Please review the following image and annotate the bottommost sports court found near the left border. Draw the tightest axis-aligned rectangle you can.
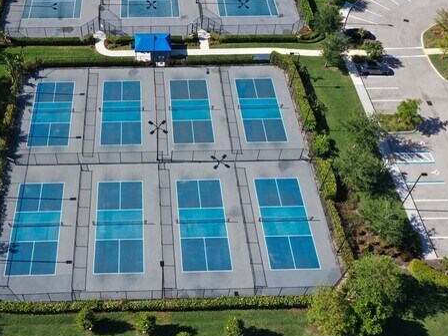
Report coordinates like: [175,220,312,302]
[4,182,64,275]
